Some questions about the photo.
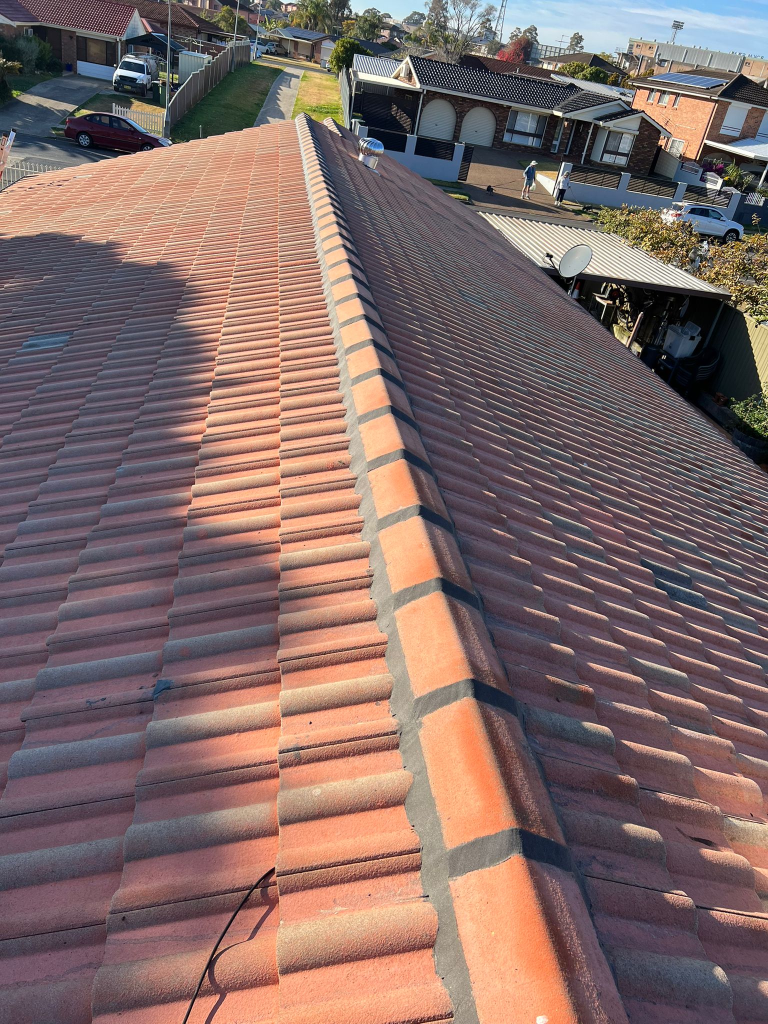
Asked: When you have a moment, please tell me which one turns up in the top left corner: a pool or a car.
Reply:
car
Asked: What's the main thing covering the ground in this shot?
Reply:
buildings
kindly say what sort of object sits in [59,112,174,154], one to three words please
car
